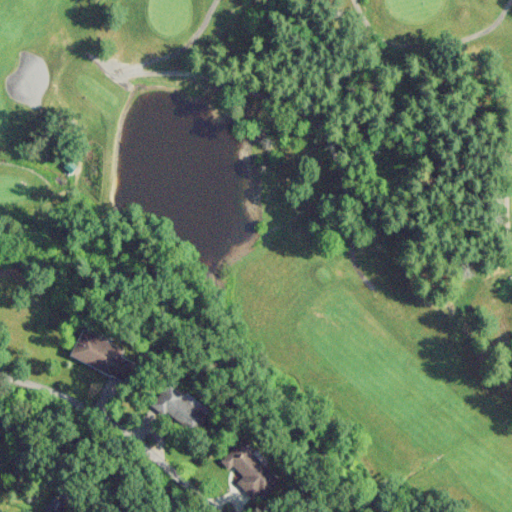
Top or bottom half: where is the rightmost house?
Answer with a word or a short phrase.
bottom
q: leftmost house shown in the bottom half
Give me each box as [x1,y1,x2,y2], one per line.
[70,332,140,380]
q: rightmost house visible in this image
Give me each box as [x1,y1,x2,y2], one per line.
[220,450,273,496]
